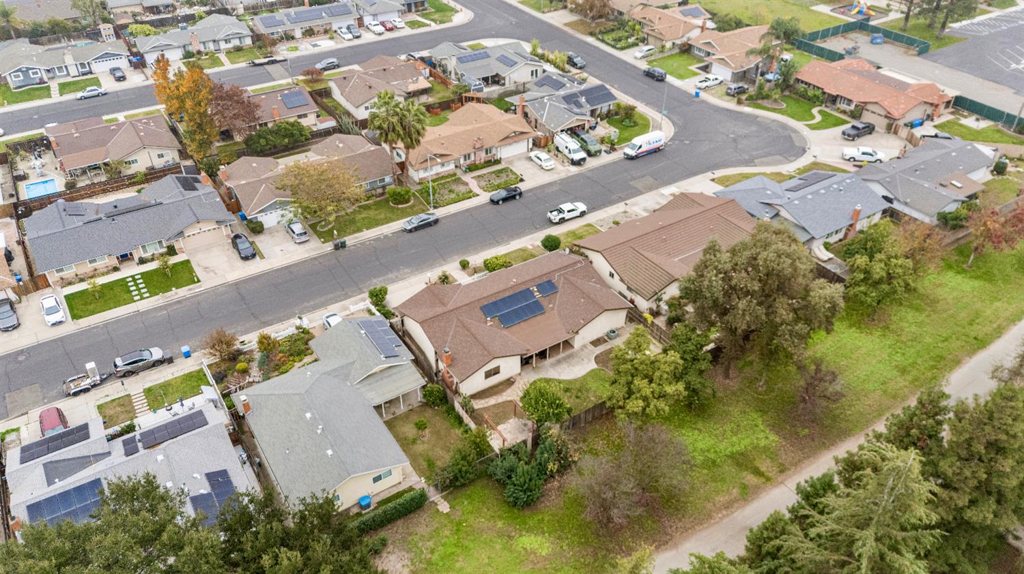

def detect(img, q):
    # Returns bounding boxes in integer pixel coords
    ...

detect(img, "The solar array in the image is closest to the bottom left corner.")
[26,478,105,528]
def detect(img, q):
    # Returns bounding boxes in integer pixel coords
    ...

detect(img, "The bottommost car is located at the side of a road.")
[39,408,66,437]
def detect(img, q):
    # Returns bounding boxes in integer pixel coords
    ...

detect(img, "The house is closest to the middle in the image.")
[396,249,633,395]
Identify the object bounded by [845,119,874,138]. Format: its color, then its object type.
gray vehicle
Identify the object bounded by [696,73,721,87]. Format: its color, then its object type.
white vehicle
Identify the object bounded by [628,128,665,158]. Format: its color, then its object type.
white van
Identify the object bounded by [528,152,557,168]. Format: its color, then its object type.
white car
